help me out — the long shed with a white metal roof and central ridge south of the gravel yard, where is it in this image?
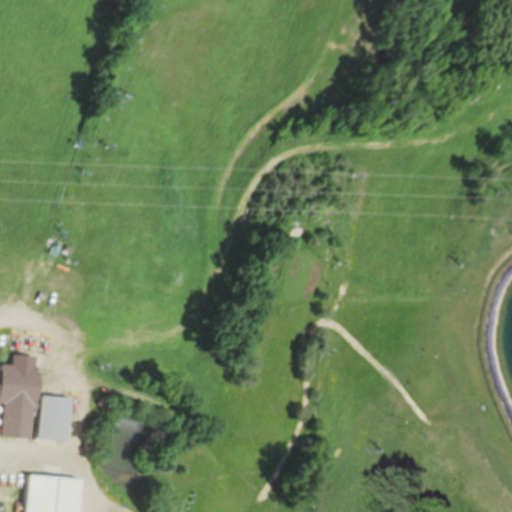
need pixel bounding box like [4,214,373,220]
[26,474,84,512]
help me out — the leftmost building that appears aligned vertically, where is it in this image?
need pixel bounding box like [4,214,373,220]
[0,352,42,440]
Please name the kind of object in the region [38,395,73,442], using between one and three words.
shed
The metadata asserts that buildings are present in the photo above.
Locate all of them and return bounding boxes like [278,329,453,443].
[26,474,84,512]
[38,395,73,442]
[0,352,42,440]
